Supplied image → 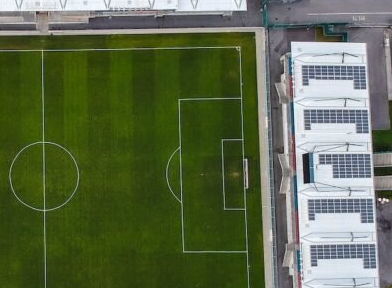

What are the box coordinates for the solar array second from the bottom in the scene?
[309,199,374,222]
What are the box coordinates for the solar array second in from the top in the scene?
[305,110,369,133]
